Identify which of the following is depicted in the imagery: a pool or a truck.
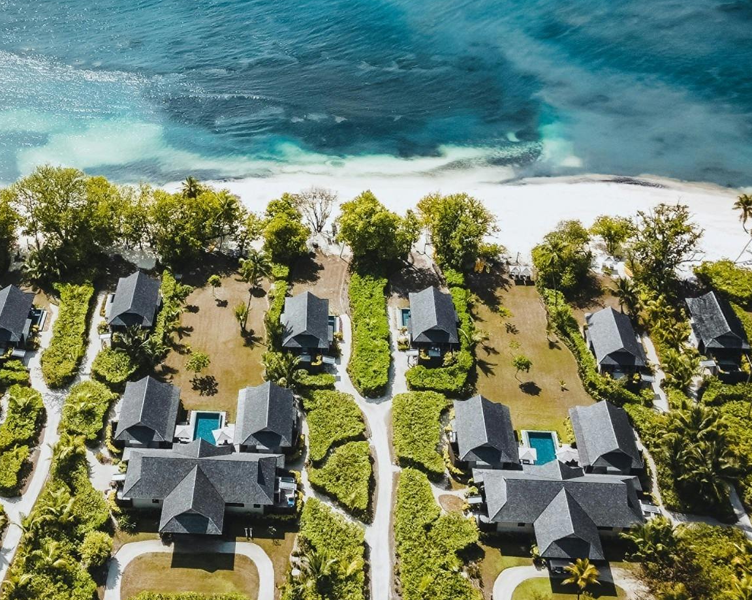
pool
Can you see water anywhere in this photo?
Yes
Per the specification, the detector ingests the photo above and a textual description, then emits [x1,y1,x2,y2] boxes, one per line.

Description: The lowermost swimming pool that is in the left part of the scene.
[174,410,236,454]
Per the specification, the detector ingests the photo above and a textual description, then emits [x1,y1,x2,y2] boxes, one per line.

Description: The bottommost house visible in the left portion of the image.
[109,436,297,552]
